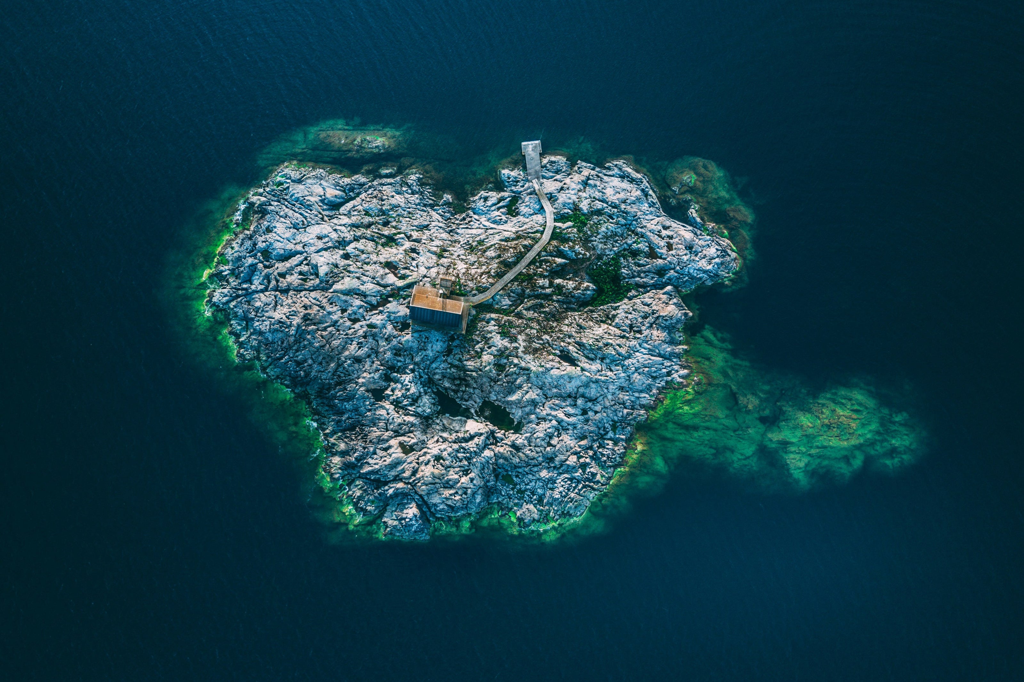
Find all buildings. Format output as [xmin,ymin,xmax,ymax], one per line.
[409,285,464,328]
